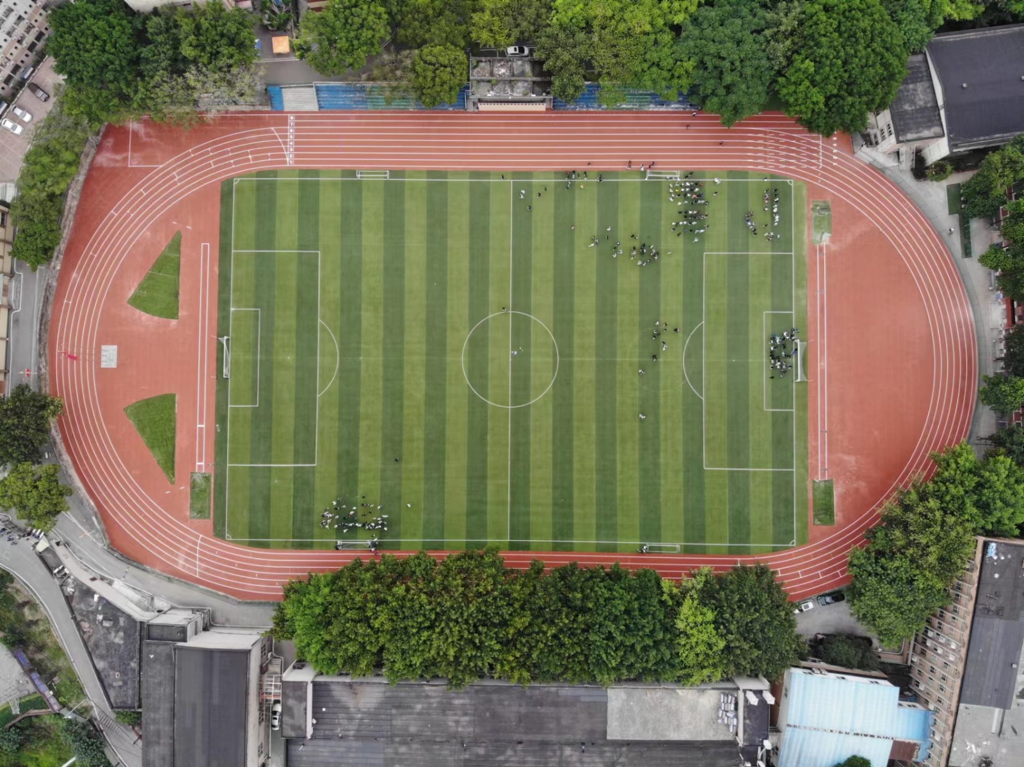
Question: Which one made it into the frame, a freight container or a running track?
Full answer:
Looking from above, you can make out a running track.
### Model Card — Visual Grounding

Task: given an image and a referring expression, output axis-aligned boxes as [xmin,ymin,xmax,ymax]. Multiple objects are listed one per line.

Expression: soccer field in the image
[213,170,805,555]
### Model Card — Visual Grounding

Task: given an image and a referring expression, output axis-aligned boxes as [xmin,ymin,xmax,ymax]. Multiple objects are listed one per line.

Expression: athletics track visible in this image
[51,110,977,602]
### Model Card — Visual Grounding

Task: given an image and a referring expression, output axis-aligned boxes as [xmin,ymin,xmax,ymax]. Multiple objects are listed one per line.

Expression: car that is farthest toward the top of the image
[506,45,530,57]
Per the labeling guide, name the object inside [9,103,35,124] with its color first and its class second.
white car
